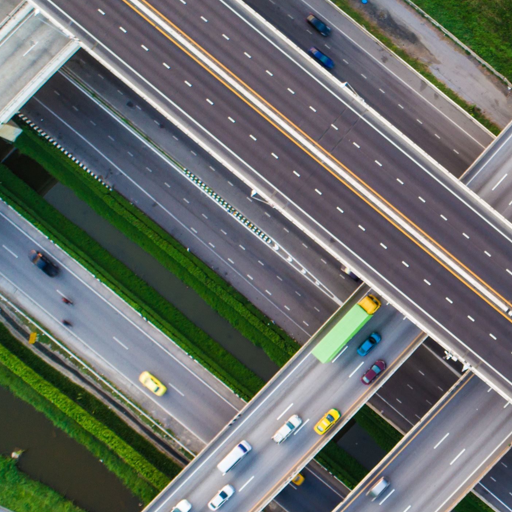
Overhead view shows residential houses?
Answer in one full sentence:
No, I can't see a single residential house in this photo.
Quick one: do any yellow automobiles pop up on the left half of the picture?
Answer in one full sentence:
Yes, looking on the left half of the picture, one can make out a yellow automobile.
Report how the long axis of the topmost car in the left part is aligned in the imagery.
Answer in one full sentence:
The topmost car in the left part has been laid out at an angle relative to the frame.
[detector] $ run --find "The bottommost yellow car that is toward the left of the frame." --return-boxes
[138,370,169,398]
